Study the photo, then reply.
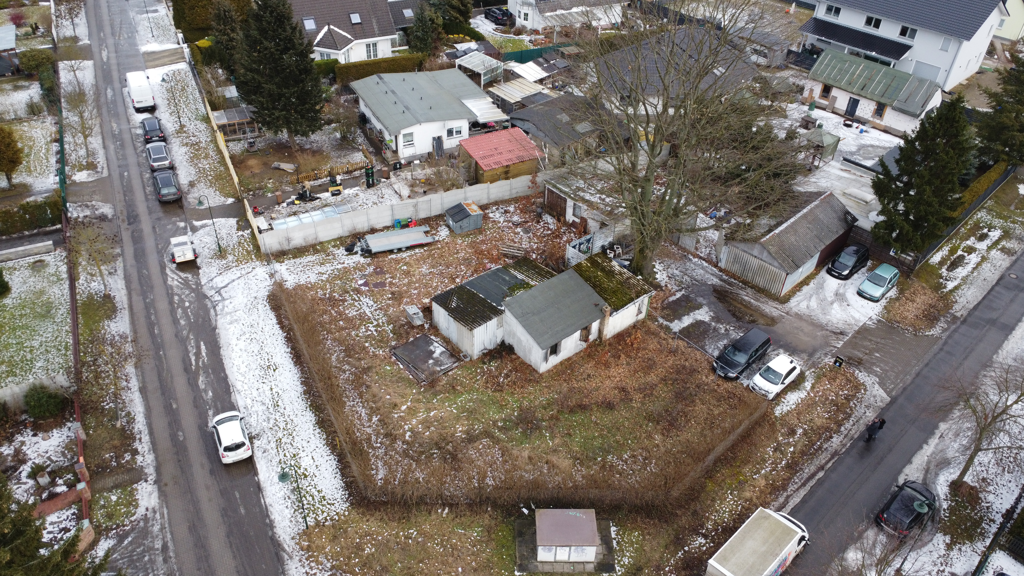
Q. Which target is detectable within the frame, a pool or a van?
van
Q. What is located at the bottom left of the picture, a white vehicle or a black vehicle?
white vehicle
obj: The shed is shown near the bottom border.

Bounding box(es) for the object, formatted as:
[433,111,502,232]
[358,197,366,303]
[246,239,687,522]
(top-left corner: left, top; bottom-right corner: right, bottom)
[533,500,601,562]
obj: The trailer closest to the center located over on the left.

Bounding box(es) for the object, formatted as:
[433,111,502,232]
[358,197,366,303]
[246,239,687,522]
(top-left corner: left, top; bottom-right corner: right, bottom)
[343,220,436,259]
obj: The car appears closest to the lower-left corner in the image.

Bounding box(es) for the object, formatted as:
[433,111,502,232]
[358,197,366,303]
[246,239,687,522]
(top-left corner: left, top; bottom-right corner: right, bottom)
[207,405,252,464]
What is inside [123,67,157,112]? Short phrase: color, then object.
white van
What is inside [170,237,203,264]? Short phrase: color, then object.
white trailer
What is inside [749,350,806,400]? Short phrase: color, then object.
white car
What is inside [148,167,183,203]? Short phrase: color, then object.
gray car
